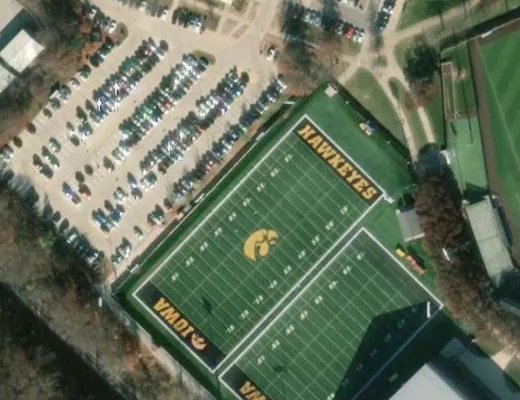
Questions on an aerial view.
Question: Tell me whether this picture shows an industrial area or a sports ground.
sports ground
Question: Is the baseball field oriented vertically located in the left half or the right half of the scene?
right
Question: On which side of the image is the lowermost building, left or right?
right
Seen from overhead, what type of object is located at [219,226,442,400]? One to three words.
sports field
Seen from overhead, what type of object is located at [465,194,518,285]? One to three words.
building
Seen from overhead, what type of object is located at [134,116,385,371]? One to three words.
sports field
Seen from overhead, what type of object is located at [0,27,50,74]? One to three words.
building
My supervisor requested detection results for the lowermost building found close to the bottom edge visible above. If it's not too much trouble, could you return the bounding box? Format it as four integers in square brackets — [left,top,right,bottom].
[391,353,483,400]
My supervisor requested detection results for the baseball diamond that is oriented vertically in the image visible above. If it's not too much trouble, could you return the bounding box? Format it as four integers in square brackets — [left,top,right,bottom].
[471,19,520,294]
